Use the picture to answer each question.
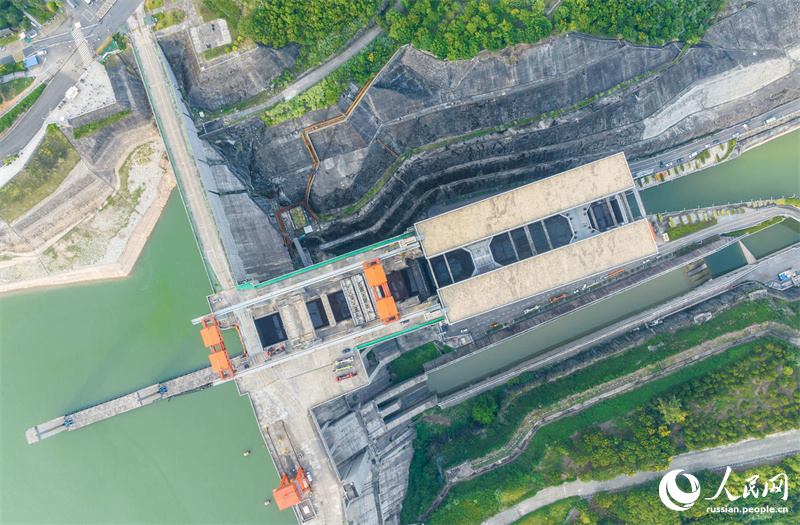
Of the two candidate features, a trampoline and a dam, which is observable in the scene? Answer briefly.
dam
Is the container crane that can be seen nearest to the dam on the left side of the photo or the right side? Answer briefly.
left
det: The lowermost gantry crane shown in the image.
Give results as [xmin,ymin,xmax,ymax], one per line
[273,452,315,512]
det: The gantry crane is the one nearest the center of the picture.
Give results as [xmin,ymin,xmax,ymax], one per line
[359,257,398,327]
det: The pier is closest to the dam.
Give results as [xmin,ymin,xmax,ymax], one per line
[156,366,211,399]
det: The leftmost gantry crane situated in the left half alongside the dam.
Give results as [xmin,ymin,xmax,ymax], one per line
[198,312,247,386]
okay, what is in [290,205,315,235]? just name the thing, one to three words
building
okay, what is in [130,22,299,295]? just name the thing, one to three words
dam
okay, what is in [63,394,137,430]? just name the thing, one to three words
pier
